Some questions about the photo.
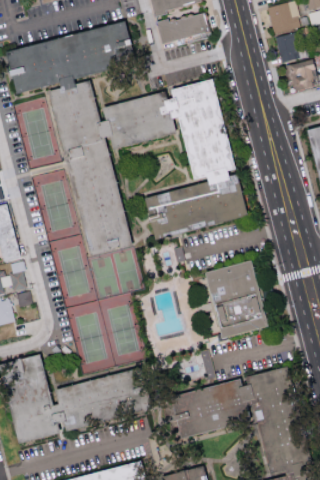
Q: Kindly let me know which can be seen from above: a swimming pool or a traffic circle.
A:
swimming pool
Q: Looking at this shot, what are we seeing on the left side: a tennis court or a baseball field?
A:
tennis court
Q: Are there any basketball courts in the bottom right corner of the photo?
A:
No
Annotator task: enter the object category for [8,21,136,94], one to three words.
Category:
building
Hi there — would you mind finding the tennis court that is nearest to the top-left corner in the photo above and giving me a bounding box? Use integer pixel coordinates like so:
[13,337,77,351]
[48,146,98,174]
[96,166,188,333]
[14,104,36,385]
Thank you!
[16,98,63,168]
